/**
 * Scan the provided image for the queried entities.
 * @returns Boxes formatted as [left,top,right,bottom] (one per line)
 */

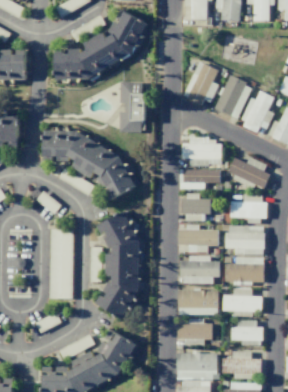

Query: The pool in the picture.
[90,98,112,112]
